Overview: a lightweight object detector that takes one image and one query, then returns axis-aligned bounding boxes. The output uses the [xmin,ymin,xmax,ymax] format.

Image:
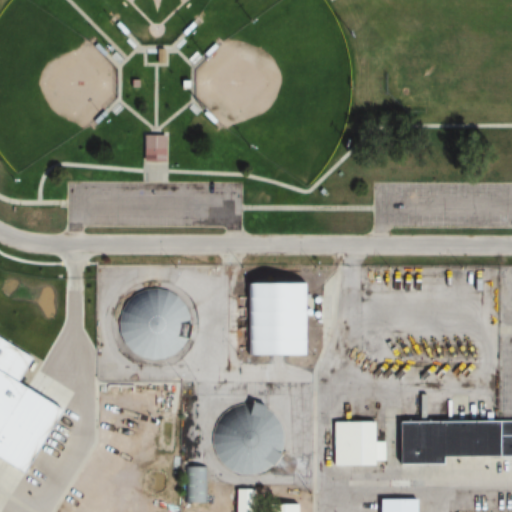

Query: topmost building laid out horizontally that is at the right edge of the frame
[402,421,503,464]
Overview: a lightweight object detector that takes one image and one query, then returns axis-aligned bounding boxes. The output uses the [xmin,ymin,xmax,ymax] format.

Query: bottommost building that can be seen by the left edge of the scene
[0,370,60,474]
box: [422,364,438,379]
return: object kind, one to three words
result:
vehicle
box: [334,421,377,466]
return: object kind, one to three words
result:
building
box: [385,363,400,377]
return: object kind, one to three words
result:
vehicle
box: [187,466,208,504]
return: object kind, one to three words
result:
shed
